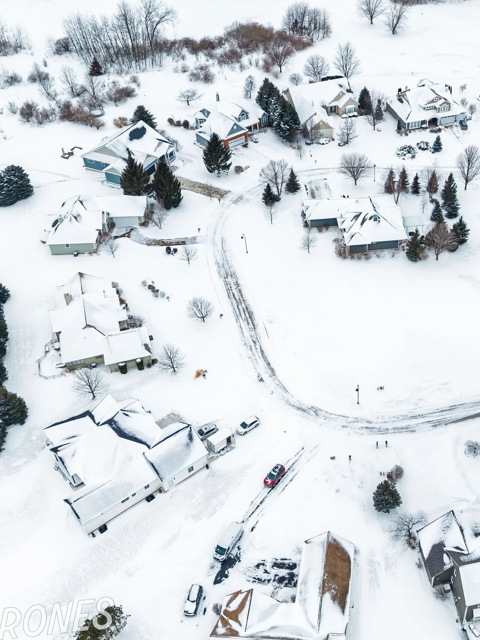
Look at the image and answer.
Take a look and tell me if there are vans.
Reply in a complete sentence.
Yes, a van appears in the view.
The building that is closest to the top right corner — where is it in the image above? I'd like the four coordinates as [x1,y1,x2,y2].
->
[386,76,468,131]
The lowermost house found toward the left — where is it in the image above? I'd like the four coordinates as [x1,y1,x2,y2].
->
[34,390,211,535]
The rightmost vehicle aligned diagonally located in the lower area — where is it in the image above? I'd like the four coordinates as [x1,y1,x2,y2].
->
[262,459,290,490]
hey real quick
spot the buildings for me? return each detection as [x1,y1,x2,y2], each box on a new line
[36,276,154,381]
[183,92,268,150]
[417,520,480,640]
[289,74,359,138]
[81,124,177,190]
[46,186,150,256]
[34,390,211,535]
[386,76,468,131]
[302,195,425,255]
[212,534,354,640]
